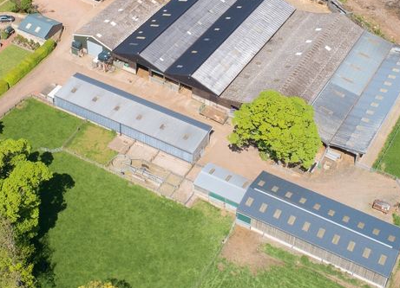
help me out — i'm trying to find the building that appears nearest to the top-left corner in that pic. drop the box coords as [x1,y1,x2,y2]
[18,14,63,43]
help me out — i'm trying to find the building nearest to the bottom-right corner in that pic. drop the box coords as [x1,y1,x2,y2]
[236,170,400,288]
